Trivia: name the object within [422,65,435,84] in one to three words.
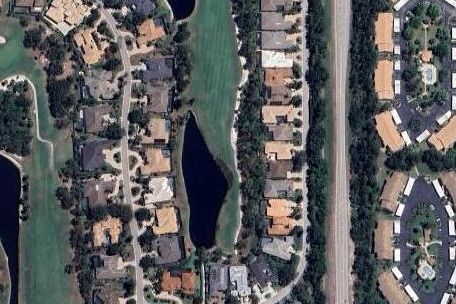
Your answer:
swimming pool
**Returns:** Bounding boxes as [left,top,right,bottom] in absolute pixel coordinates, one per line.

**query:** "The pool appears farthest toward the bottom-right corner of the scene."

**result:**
[418,263,435,280]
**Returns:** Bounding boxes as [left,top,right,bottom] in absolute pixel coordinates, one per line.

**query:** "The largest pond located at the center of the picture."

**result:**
[182,109,228,247]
